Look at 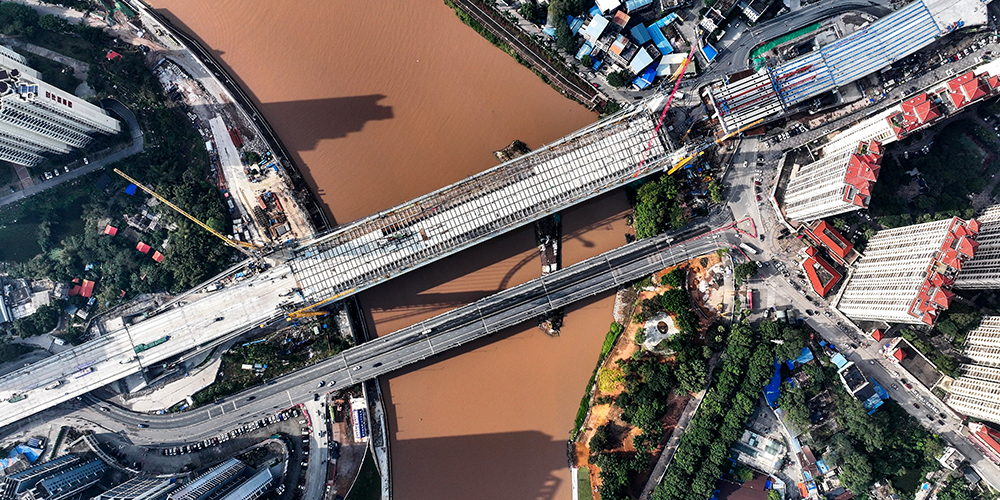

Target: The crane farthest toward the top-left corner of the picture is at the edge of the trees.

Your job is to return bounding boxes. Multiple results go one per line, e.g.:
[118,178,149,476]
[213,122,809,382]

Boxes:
[114,169,267,257]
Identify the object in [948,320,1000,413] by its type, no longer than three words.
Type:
building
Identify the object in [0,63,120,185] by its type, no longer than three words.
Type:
building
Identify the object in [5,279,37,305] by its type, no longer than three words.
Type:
house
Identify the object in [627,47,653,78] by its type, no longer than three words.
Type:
house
